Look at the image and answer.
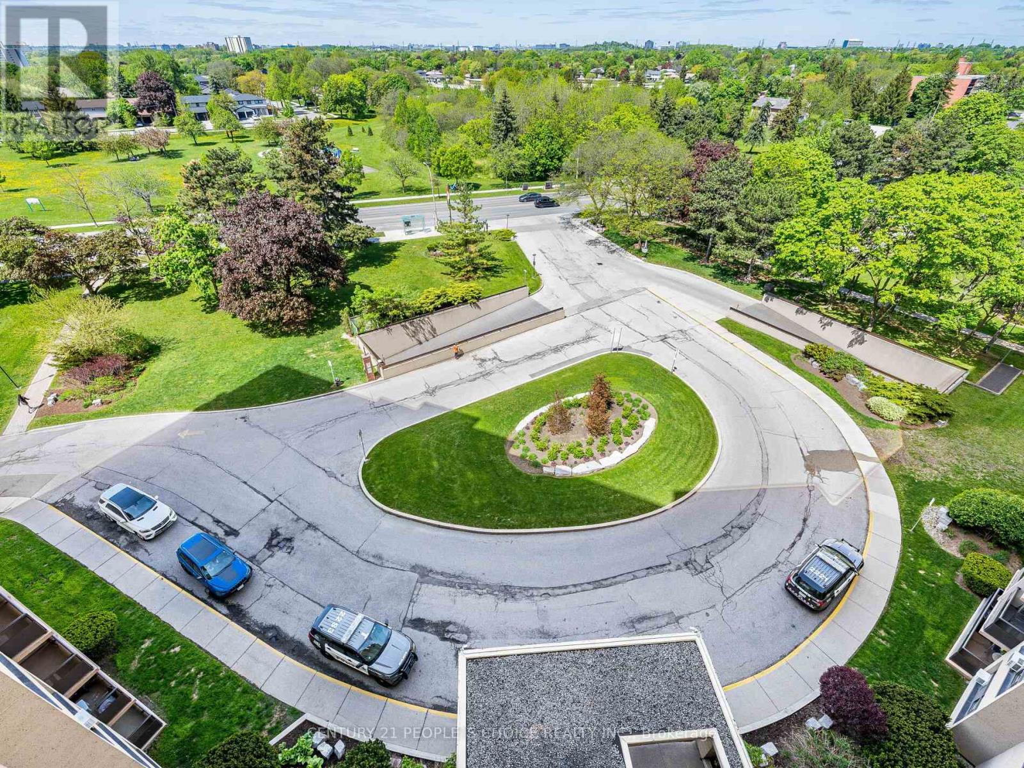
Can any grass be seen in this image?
Yes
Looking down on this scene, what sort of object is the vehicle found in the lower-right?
car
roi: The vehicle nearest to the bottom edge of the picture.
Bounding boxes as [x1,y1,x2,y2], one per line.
[311,608,422,691]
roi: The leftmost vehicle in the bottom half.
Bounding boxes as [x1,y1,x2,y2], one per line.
[94,483,173,539]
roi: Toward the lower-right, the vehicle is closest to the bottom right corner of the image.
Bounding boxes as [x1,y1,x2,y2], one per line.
[788,533,870,608]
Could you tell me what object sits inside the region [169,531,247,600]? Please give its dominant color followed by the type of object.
blue car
